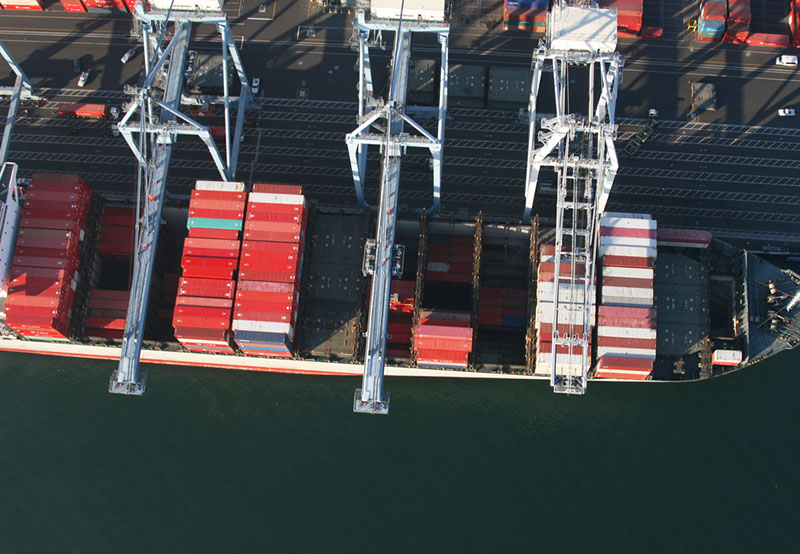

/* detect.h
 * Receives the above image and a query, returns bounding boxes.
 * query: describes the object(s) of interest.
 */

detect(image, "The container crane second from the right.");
[341,0,456,415]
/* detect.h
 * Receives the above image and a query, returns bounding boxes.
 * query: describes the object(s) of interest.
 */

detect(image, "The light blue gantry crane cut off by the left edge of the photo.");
[0,40,48,188]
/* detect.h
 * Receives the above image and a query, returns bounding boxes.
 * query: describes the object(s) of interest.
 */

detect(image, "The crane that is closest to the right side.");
[512,1,631,399]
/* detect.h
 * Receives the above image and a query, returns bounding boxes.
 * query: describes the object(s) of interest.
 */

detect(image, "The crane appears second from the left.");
[105,0,266,399]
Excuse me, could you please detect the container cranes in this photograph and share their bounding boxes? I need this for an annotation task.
[341,0,456,415]
[512,1,631,399]
[0,40,48,188]
[105,0,266,399]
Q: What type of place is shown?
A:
port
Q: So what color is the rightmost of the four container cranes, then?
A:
white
